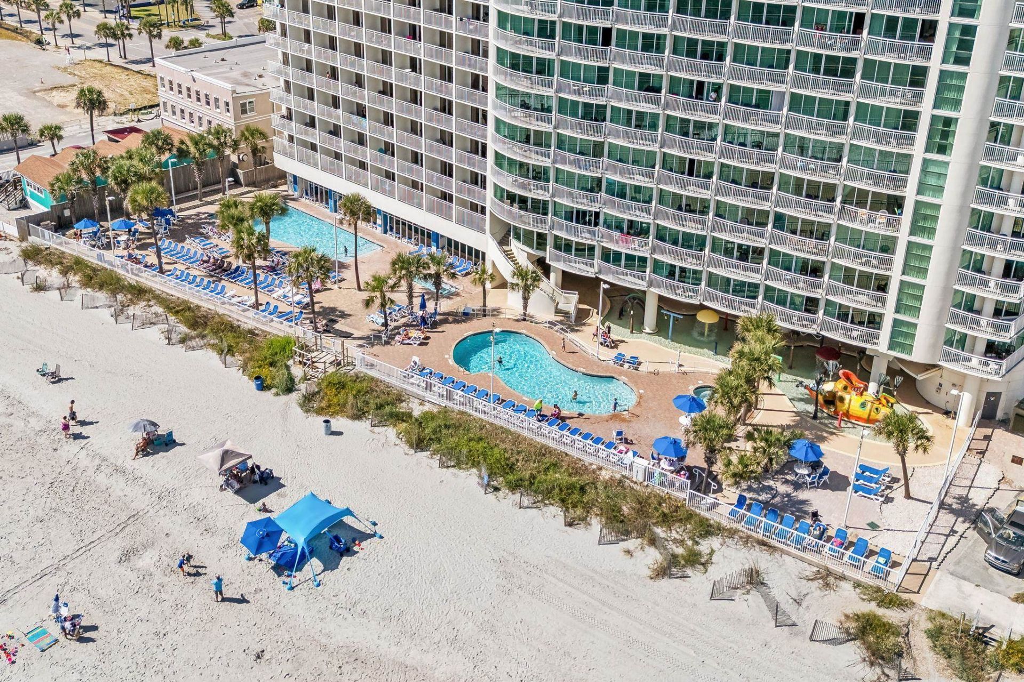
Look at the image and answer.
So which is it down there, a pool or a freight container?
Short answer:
pool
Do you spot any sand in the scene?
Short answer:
Yes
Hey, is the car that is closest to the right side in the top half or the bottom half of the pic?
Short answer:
bottom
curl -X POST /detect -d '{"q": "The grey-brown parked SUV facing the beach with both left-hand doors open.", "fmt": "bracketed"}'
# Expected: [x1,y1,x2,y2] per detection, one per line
[980,508,1024,566]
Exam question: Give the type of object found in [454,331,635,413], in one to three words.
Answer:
swimming pool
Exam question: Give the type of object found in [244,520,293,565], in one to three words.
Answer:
umbrella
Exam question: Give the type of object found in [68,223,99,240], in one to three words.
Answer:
umbrella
